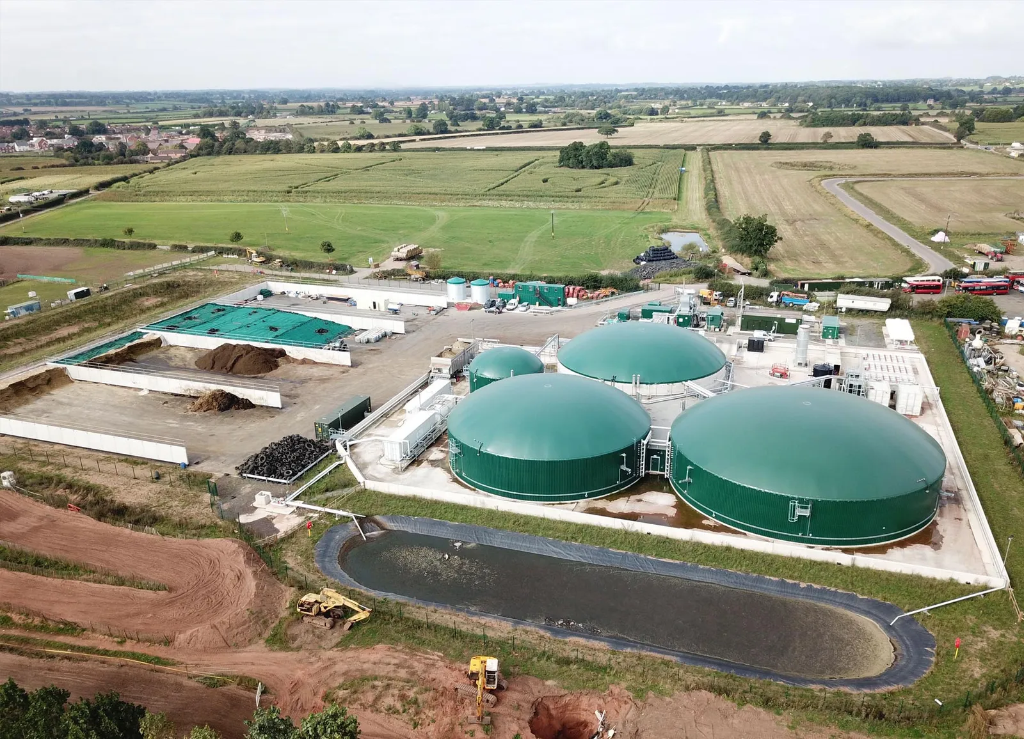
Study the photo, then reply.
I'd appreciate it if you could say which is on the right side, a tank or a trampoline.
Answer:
tank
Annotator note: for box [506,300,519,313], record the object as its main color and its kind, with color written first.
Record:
white vehicle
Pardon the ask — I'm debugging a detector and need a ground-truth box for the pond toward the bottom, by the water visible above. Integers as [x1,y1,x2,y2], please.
[309,513,942,696]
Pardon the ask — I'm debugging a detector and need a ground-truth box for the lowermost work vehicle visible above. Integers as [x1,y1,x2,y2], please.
[460,660,509,724]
